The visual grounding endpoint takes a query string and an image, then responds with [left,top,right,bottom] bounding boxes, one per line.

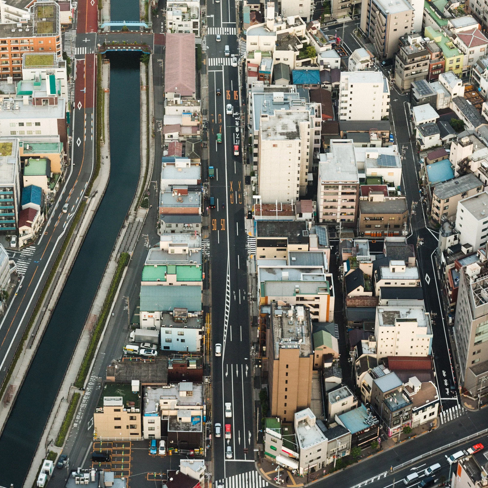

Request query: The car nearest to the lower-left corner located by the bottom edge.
[55,453,69,470]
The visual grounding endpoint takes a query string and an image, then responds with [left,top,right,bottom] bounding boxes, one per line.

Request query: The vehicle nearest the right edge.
[466,443,486,455]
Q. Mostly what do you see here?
buildings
